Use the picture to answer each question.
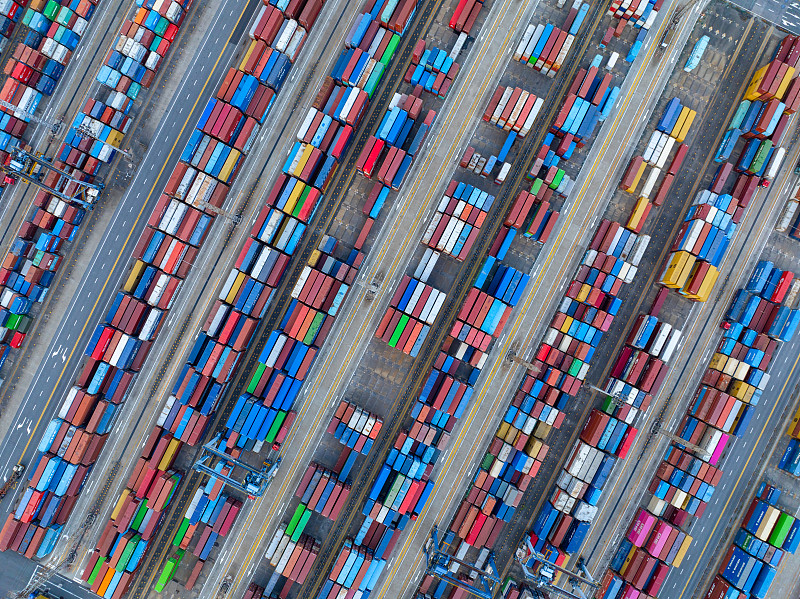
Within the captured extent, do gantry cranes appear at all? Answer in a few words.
Yes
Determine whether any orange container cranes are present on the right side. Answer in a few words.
No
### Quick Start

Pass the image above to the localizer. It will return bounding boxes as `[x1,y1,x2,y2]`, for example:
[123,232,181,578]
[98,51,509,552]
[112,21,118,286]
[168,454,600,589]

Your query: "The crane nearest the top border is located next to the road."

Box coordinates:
[0,140,108,215]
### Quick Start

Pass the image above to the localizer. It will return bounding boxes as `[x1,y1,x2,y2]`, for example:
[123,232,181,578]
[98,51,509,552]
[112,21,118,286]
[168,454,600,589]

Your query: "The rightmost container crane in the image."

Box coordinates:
[511,525,605,599]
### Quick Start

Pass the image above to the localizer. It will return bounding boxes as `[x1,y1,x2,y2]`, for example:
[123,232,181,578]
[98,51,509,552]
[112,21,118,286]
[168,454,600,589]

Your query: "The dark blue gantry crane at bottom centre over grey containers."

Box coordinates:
[420,517,504,599]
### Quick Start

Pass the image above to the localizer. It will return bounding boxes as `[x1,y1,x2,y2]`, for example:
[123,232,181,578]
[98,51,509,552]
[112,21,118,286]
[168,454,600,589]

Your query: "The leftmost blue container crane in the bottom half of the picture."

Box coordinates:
[187,421,284,501]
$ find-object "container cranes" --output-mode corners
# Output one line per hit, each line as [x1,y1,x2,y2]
[420,517,504,599]
[511,525,605,599]
[0,140,108,215]
[187,421,284,501]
